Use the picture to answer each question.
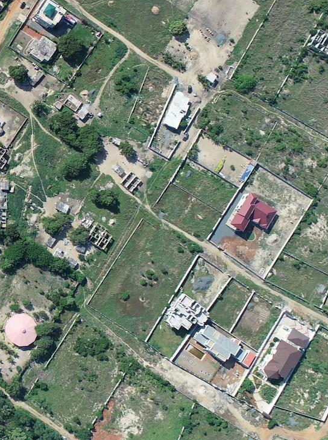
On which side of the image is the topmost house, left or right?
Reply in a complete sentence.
The topmost house is on the left side of the image.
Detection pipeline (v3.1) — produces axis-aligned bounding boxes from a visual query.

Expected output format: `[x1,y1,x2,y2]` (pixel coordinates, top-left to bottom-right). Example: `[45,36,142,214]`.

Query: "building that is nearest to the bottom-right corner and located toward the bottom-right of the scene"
[257,327,311,381]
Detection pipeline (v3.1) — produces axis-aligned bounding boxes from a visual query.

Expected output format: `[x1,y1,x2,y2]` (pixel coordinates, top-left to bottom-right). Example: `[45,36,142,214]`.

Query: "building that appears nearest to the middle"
[118,170,144,193]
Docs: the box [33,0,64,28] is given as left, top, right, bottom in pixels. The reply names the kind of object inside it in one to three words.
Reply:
house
